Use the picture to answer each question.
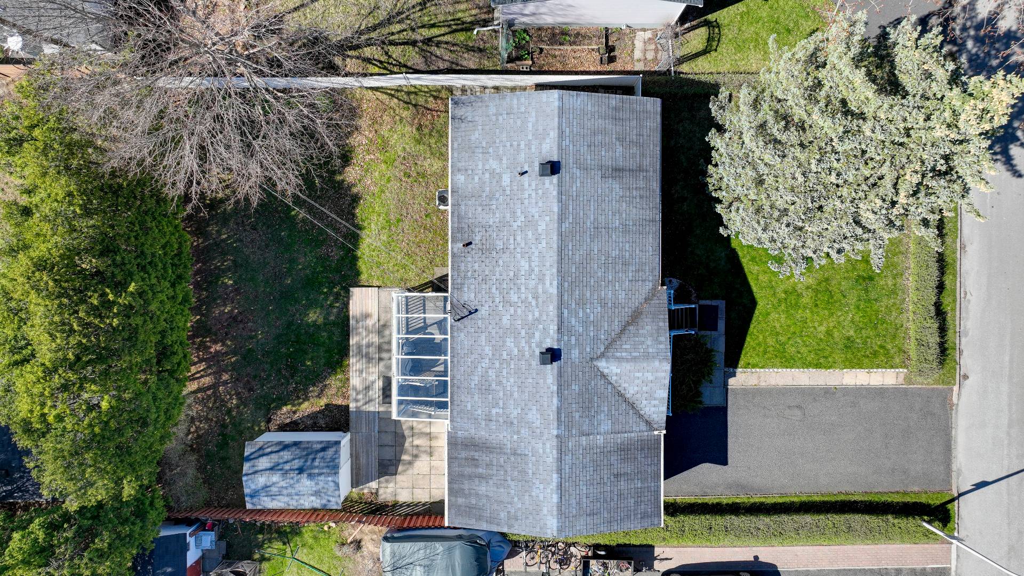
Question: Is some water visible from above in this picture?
No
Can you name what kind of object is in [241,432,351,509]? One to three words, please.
shed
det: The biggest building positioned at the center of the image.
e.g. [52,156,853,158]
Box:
[443,89,671,538]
